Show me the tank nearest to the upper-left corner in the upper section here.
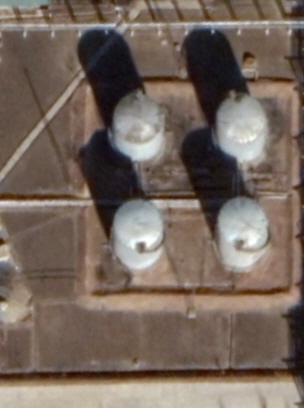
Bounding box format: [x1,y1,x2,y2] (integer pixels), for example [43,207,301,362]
[111,93,168,173]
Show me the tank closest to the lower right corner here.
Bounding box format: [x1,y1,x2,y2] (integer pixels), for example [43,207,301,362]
[216,201,273,269]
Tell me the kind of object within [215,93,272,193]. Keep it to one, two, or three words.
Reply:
storage tank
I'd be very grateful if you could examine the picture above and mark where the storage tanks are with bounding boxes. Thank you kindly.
[215,93,272,193]
[111,201,168,269]
[216,201,273,269]
[111,93,168,173]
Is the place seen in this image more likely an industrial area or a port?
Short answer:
industrial area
